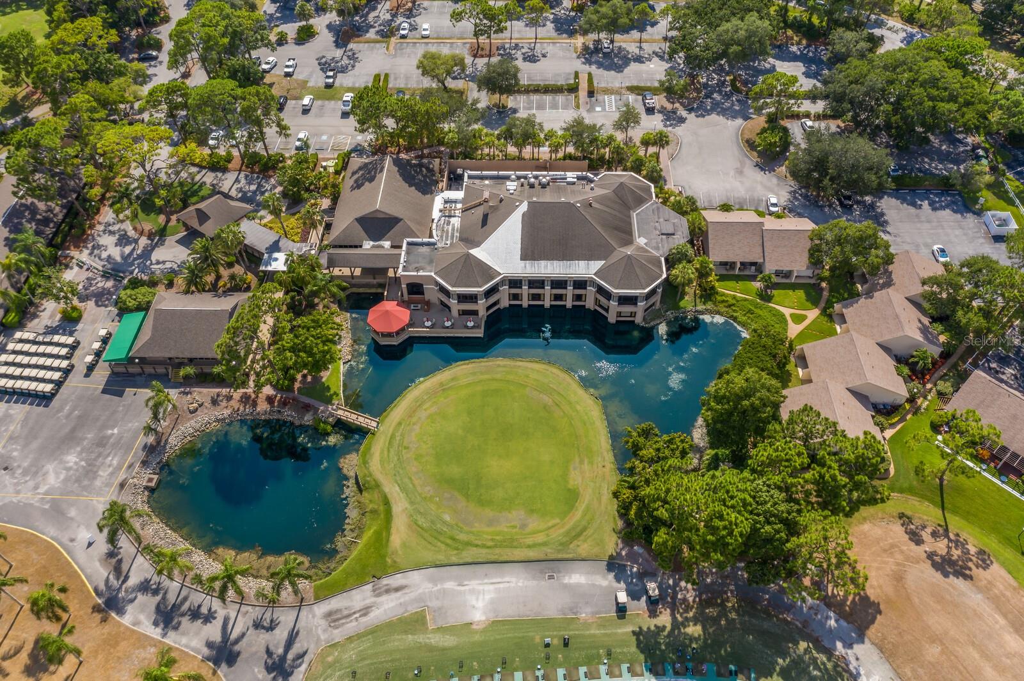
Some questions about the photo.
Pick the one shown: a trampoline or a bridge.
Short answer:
bridge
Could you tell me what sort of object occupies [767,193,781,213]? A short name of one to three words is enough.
car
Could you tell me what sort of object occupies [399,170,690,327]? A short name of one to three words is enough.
building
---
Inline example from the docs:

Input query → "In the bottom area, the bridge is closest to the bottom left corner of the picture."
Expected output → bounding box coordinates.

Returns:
[329,405,380,437]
